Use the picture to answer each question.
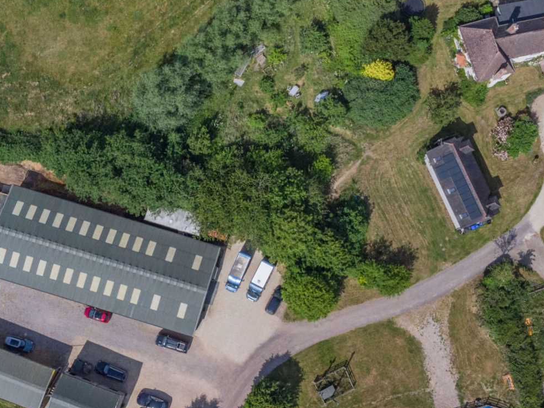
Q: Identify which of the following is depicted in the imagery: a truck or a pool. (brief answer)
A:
truck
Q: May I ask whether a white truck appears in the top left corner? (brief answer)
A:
No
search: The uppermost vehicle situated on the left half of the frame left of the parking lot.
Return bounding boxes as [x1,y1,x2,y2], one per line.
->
[84,305,113,324]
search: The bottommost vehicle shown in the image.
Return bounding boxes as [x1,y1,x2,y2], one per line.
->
[138,392,171,408]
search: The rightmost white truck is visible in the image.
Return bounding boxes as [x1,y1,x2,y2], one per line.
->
[244,260,276,303]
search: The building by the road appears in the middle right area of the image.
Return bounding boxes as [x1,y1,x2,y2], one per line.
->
[423,135,501,229]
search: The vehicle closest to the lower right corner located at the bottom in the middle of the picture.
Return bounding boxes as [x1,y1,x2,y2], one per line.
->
[265,287,286,315]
